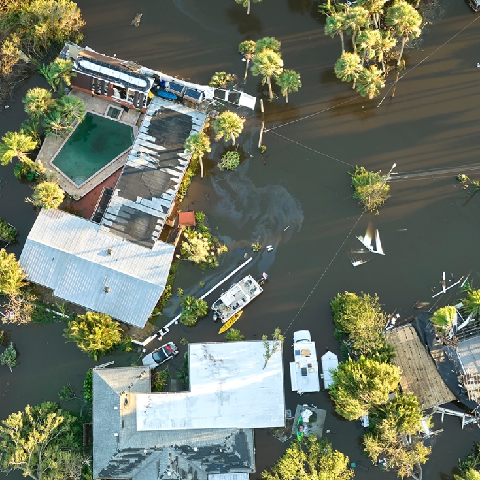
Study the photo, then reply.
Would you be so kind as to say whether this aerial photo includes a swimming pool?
Yes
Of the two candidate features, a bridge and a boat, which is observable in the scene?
boat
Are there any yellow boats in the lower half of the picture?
Yes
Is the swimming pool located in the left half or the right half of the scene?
left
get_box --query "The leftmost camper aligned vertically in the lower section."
[288,333,319,396]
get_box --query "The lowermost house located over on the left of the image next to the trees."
[93,340,286,480]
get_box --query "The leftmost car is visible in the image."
[140,341,182,369]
